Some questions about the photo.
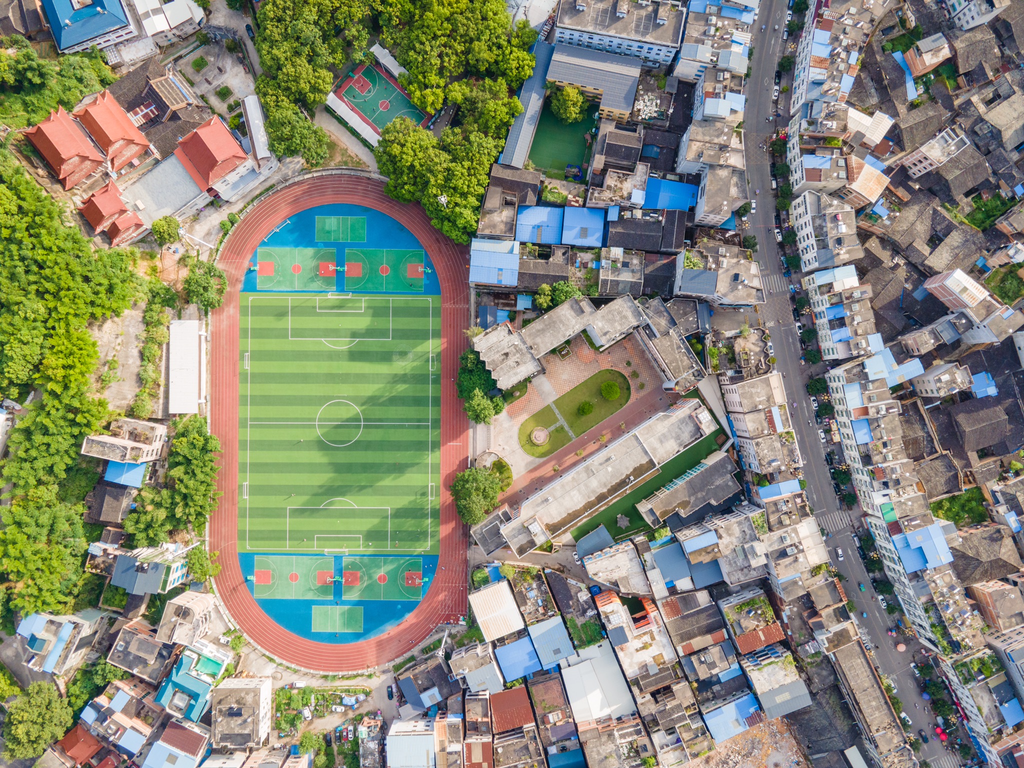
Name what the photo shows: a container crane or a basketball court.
basketball court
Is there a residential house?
Yes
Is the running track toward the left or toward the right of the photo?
left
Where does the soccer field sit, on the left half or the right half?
left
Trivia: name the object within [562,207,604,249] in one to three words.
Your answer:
shed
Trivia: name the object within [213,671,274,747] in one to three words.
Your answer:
house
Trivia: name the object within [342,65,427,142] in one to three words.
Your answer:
basketball court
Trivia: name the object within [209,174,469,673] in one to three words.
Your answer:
running track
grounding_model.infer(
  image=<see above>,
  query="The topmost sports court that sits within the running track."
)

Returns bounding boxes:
[315,216,366,242]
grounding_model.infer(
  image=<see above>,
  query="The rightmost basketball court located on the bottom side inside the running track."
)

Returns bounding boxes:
[342,558,422,601]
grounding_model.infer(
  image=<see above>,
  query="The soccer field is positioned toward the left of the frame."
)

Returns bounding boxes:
[238,292,441,555]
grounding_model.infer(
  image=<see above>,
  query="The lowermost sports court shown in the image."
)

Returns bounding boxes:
[312,606,363,632]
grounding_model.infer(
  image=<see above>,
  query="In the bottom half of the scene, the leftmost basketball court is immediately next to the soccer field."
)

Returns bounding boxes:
[254,556,333,600]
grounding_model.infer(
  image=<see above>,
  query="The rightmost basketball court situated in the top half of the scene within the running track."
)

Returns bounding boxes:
[345,248,424,292]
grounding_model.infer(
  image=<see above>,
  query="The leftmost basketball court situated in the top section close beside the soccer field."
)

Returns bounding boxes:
[257,248,336,290]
